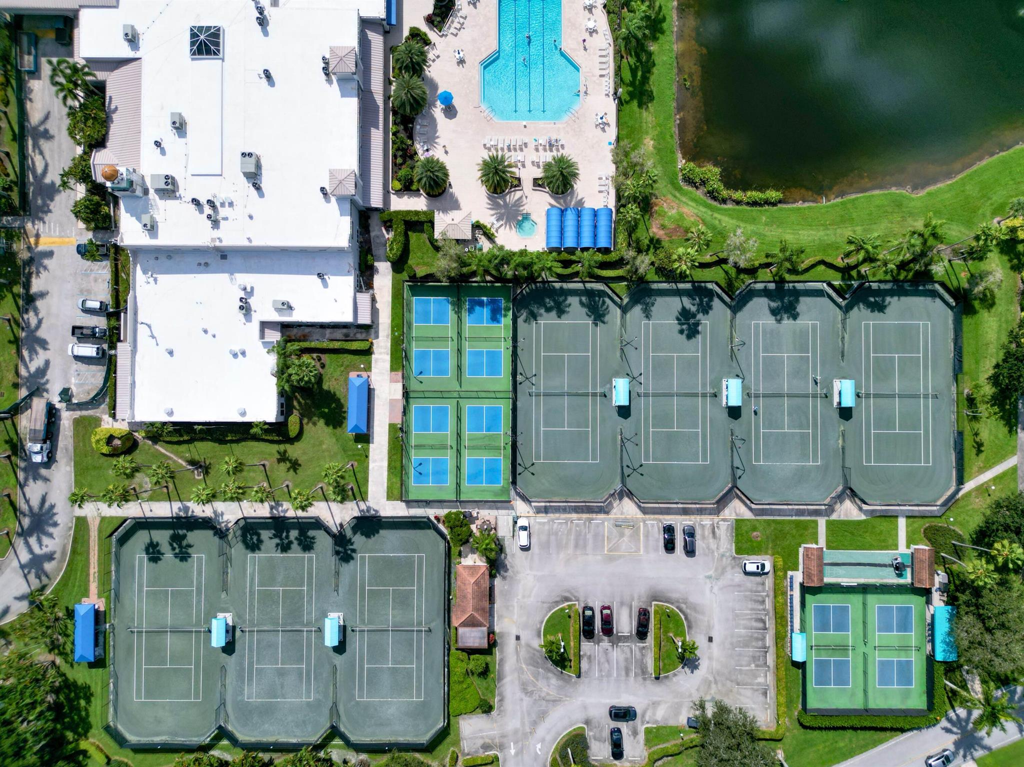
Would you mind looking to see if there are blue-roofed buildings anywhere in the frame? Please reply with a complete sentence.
Yes, looking at the shot, I can spot a blue-roofed building.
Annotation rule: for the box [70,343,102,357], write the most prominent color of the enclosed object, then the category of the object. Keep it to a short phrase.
white vehicle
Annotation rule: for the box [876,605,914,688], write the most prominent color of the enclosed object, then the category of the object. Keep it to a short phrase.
blue sports court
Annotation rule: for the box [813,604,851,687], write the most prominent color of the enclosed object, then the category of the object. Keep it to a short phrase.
blue sports court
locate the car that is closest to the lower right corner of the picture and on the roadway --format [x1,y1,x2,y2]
[923,745,955,767]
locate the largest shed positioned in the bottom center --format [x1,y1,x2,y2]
[452,564,493,650]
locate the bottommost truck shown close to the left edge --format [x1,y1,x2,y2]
[24,393,55,461]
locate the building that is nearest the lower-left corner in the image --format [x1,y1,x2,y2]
[73,601,105,662]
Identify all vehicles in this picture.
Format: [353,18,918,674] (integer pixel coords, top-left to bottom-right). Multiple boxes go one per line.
[610,726,625,758]
[662,523,676,552]
[682,524,697,555]
[636,608,650,639]
[24,393,55,461]
[70,324,109,339]
[600,605,614,635]
[740,560,770,575]
[78,297,110,312]
[582,607,596,637]
[607,705,637,722]
[892,556,908,573]
[516,518,530,548]
[923,745,955,767]
[70,343,102,357]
